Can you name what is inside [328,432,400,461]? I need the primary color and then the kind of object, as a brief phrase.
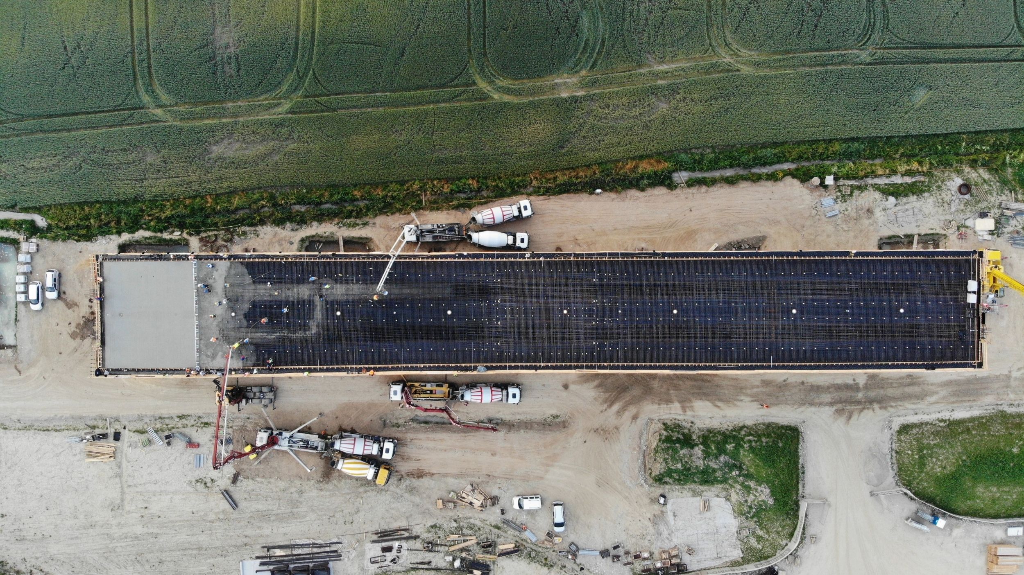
white truck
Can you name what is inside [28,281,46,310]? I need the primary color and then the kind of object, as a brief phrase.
white car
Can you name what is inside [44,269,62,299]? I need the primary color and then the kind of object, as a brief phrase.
white car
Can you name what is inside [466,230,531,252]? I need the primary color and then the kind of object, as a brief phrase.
white truck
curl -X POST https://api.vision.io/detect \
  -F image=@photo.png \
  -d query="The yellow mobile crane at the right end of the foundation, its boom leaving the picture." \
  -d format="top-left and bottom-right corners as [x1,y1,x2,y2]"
[976,248,1024,307]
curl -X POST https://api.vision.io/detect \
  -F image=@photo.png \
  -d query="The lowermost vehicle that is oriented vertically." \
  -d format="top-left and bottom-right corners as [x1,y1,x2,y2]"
[552,501,567,532]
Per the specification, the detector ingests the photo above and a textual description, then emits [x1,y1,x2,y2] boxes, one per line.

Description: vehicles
[552,501,567,532]
[469,197,537,229]
[388,368,497,431]
[328,432,400,461]
[466,230,531,252]
[457,382,523,403]
[330,453,397,487]
[213,376,278,412]
[28,281,46,310]
[377,212,467,295]
[512,494,541,510]
[211,344,328,473]
[44,269,62,299]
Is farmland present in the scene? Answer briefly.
Yes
